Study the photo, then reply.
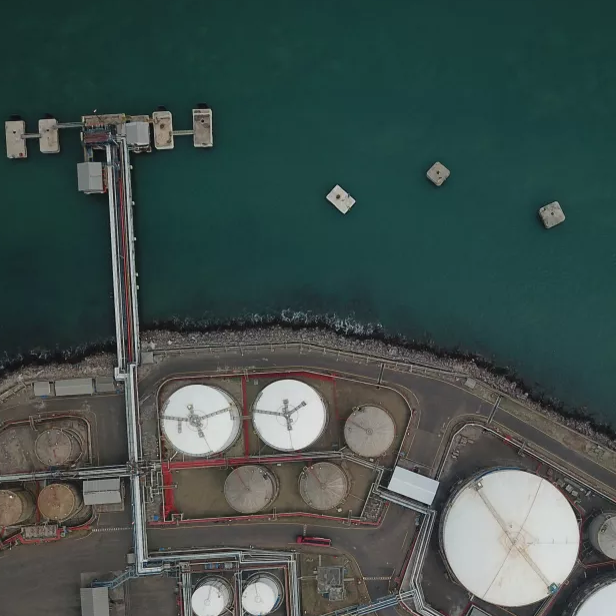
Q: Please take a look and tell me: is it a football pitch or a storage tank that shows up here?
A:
storage tank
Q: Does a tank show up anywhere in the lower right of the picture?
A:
Yes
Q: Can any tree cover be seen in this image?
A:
No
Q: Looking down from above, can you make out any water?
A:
Yes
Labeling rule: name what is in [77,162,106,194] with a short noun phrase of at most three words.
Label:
shed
